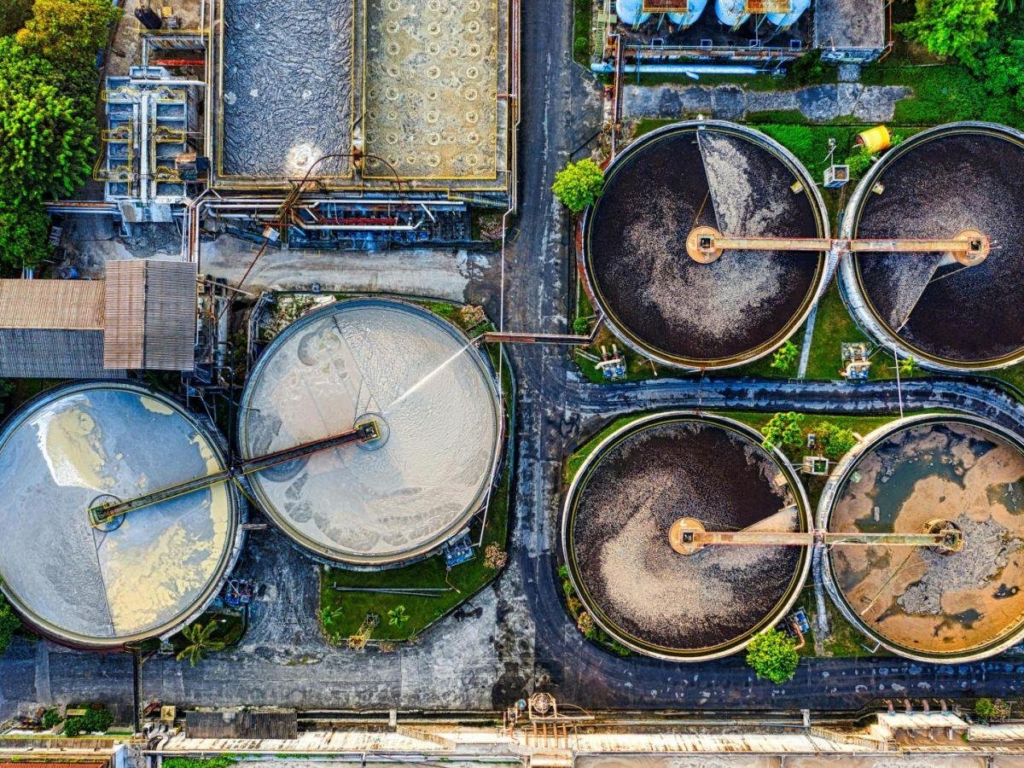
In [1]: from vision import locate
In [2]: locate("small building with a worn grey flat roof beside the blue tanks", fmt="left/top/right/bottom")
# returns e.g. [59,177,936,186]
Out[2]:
[805,0,885,69]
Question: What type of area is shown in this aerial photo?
industrial area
